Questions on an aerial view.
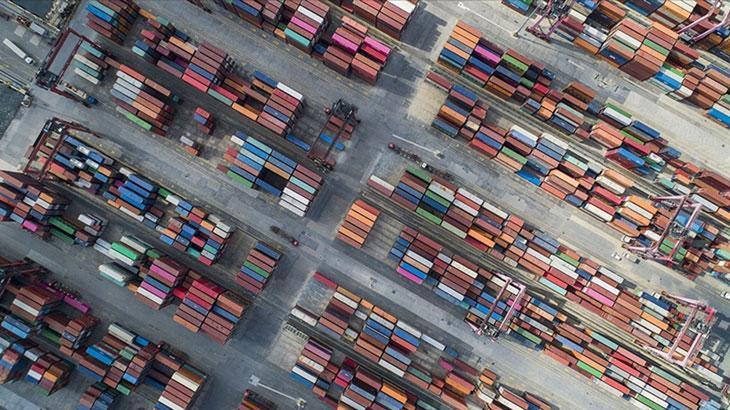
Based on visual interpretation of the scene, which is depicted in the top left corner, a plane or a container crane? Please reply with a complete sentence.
Visible in the top left corner is a container crane.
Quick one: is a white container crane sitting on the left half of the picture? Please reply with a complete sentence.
No, no white container crane appears on the left half of the picture.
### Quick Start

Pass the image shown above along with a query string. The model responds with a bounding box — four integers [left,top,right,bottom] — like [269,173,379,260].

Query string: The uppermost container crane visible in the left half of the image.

[31,26,115,105]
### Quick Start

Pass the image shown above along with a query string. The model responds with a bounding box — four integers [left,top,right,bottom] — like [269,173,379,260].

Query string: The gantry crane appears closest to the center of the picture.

[304,101,361,173]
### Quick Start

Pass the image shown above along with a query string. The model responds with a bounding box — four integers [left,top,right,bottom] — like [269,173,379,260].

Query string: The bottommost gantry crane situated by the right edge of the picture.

[633,289,719,368]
